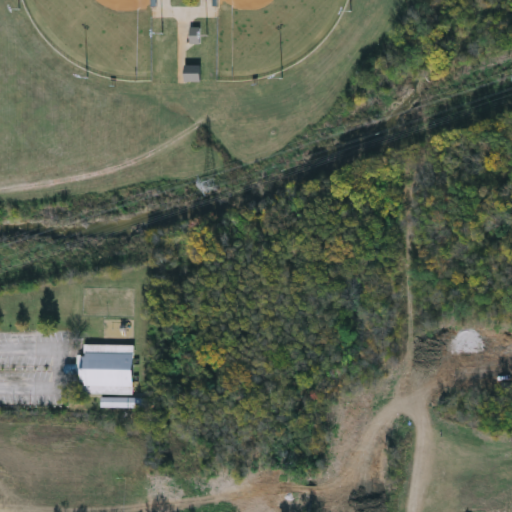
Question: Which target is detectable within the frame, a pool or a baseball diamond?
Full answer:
The image shows a baseball diamond.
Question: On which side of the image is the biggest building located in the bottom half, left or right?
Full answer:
It is on the left.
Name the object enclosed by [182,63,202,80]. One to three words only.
building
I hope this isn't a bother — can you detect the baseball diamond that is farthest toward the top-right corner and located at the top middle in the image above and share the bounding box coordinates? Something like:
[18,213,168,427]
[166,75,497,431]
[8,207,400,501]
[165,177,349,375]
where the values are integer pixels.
[218,0,348,82]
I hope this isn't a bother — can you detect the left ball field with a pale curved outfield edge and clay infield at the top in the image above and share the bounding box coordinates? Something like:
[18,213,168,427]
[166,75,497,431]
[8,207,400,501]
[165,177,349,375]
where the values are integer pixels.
[22,0,152,82]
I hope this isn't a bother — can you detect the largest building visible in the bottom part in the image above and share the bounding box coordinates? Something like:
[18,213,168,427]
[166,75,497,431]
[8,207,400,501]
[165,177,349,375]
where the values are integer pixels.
[77,345,136,396]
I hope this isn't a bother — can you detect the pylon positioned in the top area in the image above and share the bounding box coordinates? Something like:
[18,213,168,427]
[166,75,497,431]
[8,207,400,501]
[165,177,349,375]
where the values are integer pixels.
[196,174,222,196]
